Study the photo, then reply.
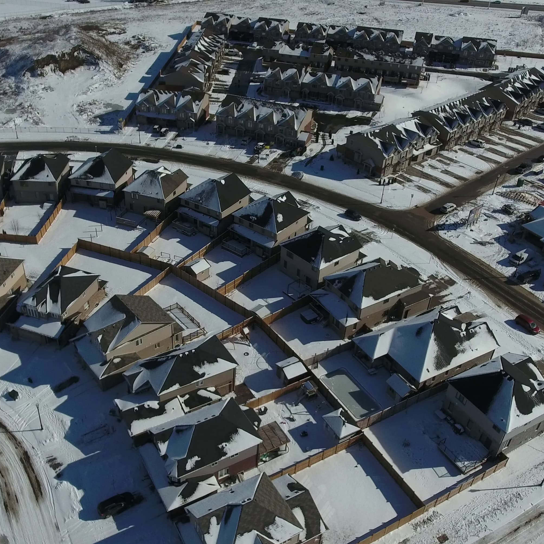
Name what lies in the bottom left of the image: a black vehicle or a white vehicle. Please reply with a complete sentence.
It is a black vehicle that can be seen in the bottom left of the image.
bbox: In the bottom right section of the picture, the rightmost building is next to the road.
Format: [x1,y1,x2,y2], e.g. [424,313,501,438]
[442,350,544,457]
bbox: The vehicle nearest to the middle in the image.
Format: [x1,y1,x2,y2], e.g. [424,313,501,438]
[344,209,362,221]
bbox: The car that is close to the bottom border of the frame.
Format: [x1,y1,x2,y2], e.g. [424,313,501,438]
[96,492,135,518]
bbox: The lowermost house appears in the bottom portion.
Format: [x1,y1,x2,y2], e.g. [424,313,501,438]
[185,462,329,544]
